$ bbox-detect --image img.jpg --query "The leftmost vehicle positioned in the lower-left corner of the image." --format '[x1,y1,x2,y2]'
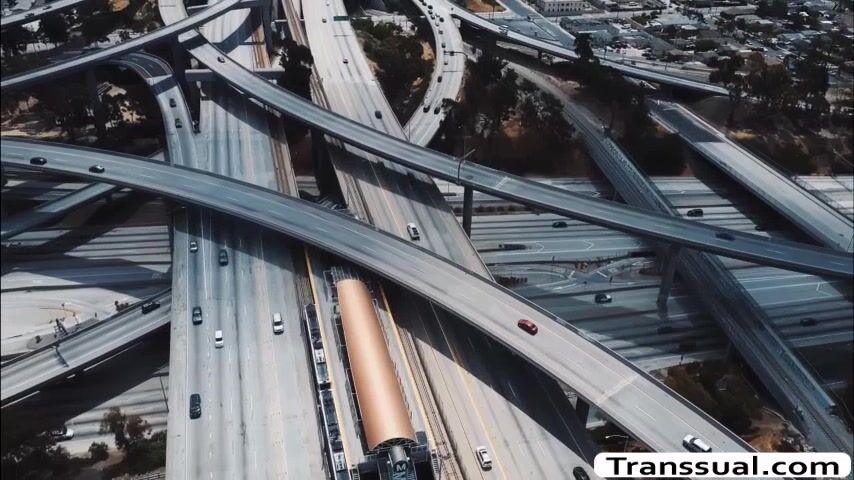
[48,427,75,440]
